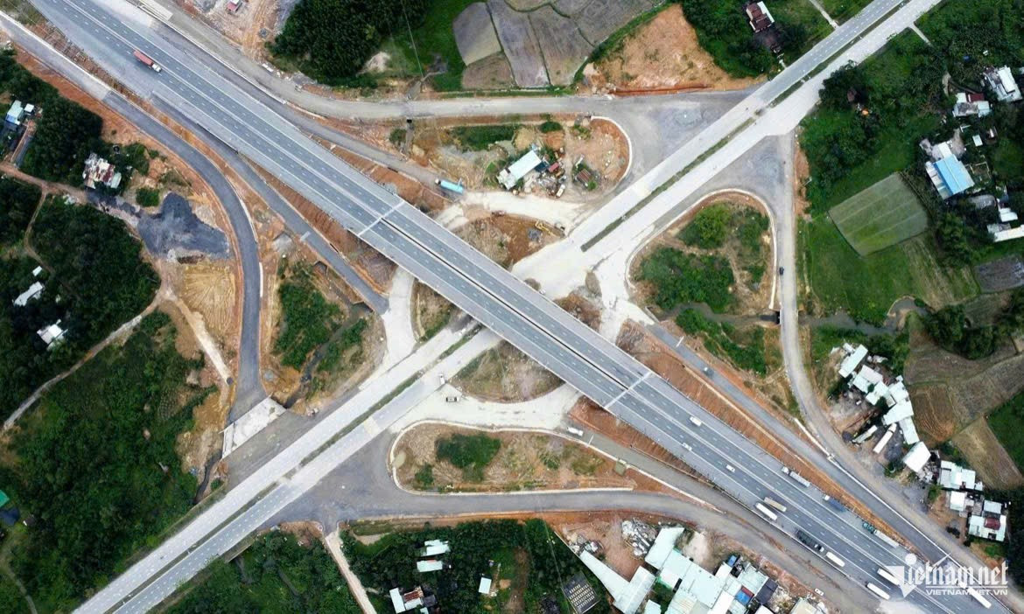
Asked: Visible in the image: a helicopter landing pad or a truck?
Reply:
truck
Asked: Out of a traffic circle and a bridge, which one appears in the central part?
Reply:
bridge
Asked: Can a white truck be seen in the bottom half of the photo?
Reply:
Yes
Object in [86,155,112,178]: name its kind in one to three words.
house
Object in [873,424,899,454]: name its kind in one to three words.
truck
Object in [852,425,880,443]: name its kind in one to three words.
vehicle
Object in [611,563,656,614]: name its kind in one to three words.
building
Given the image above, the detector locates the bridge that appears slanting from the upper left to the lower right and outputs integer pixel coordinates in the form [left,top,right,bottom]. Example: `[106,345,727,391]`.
[358,201,651,407]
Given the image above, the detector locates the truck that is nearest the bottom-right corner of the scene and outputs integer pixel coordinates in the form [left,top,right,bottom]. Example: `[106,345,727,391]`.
[960,579,999,614]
